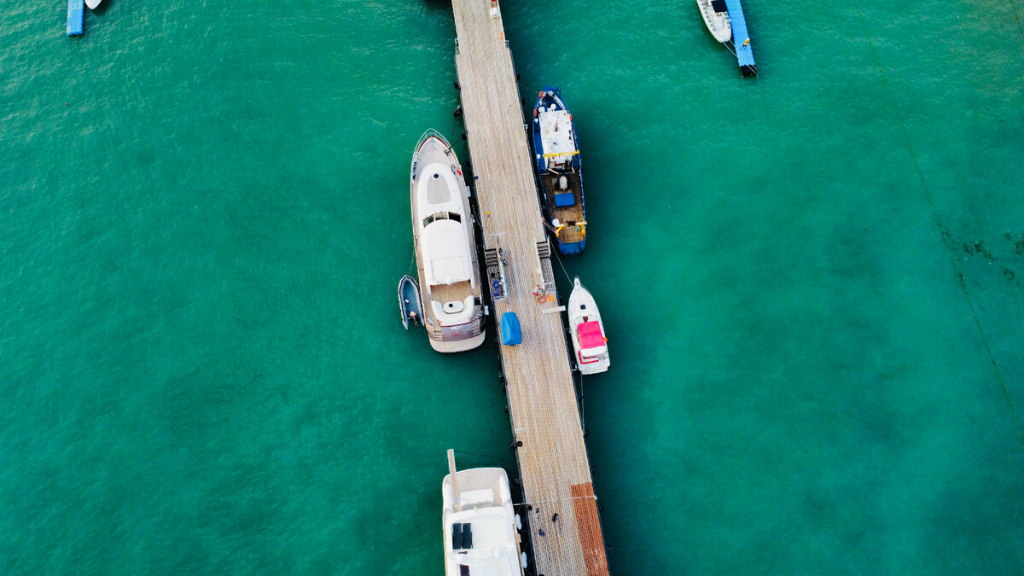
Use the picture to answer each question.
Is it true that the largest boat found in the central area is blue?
No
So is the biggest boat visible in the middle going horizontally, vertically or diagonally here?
vertically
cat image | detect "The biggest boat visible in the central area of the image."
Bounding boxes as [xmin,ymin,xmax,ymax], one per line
[409,129,486,354]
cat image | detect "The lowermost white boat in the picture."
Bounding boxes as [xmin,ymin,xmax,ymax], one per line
[443,448,527,576]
